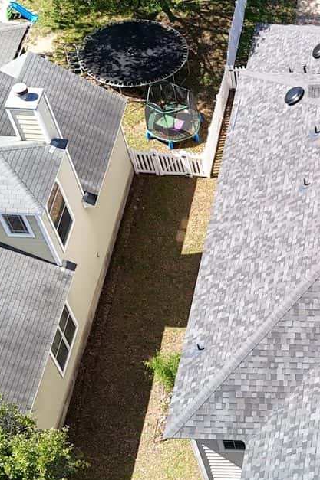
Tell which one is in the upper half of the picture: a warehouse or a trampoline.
trampoline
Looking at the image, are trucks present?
No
